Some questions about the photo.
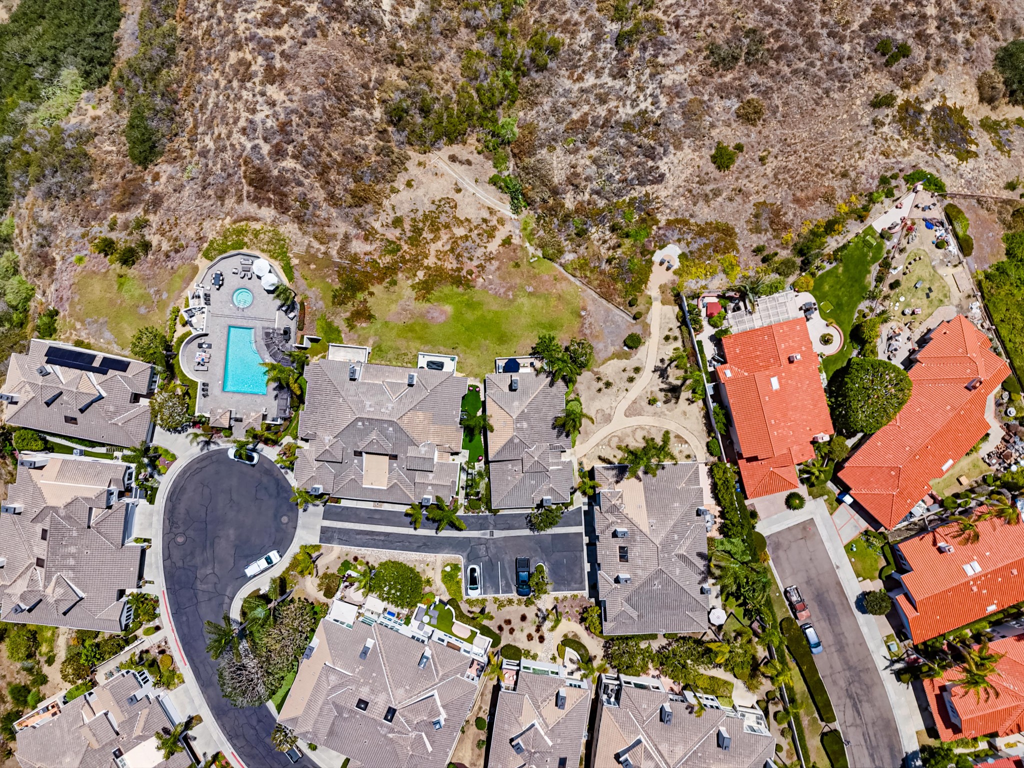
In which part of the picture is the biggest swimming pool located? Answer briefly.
left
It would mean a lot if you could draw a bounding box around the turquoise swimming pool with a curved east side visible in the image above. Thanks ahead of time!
[221,324,270,398]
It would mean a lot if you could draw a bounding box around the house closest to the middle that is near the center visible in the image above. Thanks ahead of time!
[485,356,574,510]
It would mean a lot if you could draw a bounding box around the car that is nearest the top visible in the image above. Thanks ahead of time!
[228,447,261,465]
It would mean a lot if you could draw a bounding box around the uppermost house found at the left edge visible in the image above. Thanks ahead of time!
[0,336,160,447]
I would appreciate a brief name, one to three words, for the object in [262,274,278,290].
umbrella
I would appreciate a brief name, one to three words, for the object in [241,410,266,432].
building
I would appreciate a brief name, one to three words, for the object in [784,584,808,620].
truck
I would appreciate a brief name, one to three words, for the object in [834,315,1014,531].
house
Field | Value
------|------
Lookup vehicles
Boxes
[243,551,283,577]
[801,623,821,653]
[784,584,808,620]
[515,556,530,596]
[228,447,261,465]
[465,564,481,595]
